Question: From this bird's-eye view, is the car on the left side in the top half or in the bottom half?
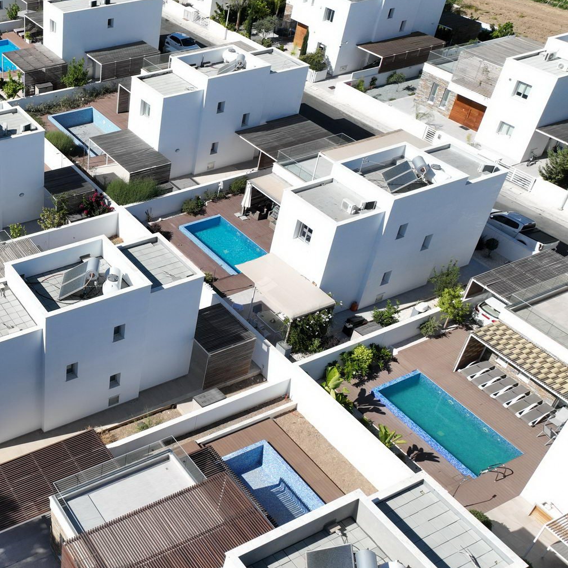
top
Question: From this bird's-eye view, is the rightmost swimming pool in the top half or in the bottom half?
bottom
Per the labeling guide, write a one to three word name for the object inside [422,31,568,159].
house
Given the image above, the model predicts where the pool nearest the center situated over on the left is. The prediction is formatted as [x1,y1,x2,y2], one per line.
[181,214,269,270]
